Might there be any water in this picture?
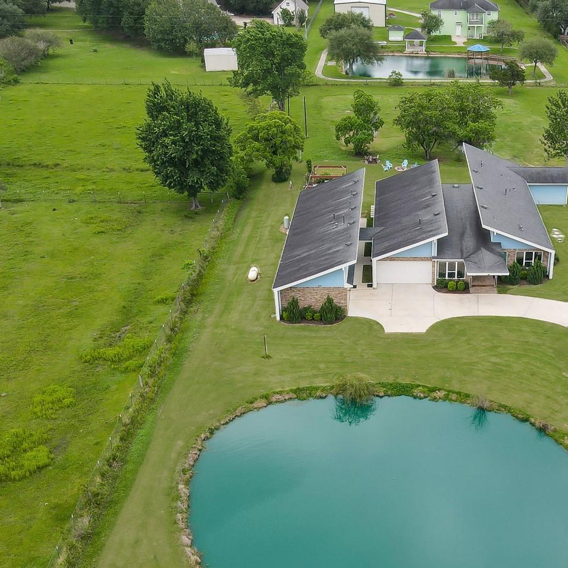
Yes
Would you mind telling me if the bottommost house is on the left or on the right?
right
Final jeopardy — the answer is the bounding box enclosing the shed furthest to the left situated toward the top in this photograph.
[203,43,241,71]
